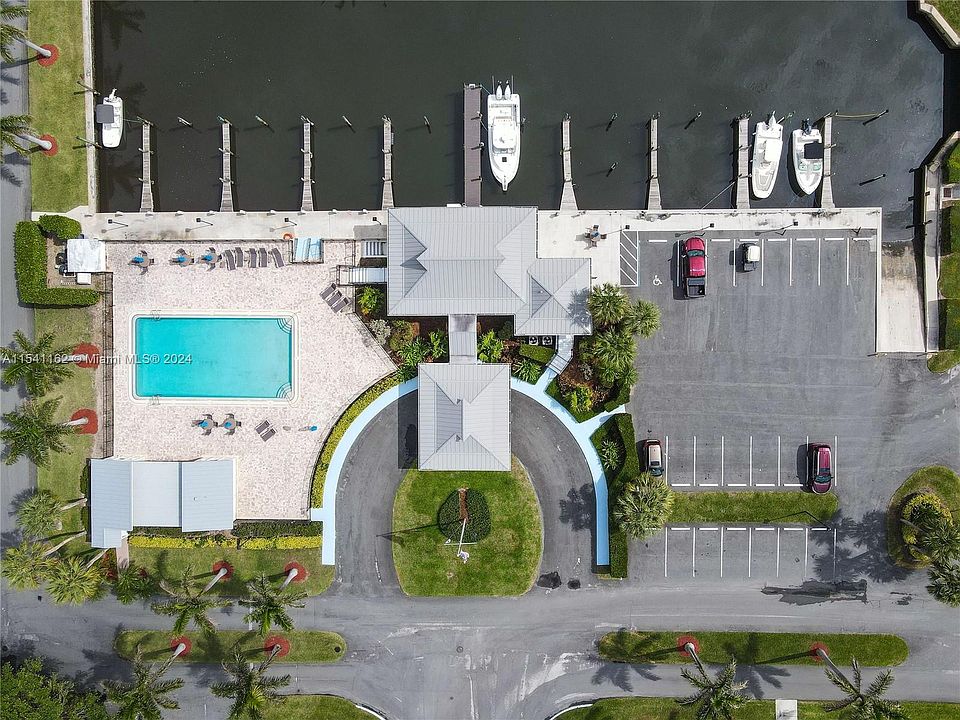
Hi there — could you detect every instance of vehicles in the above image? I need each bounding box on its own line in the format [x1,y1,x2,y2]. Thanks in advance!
[741,244,761,270]
[682,237,708,299]
[808,444,835,493]
[644,437,668,481]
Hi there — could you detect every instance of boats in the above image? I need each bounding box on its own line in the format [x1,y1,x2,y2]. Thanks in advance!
[91,88,125,150]
[487,79,520,193]
[755,107,790,197]
[793,115,832,194]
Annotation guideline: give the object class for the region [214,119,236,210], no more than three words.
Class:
pier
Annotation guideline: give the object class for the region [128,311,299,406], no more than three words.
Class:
swimming pool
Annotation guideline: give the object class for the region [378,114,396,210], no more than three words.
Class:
pier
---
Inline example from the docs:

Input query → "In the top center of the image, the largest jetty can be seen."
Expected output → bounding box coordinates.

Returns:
[460,81,485,207]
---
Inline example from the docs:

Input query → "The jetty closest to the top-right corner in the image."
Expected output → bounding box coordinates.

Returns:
[817,112,844,210]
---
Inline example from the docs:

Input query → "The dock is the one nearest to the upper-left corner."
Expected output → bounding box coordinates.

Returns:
[133,118,158,210]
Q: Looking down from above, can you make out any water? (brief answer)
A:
Yes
